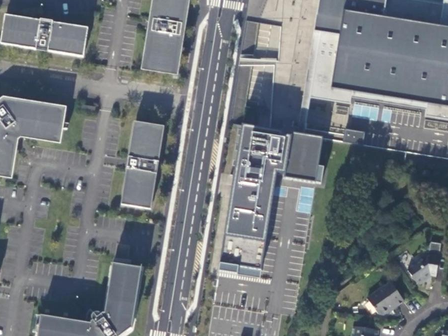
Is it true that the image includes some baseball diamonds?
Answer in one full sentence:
No, the photo shows no baseball diamond.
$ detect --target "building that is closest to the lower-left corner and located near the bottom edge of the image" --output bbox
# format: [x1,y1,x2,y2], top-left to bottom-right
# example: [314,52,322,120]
[34,260,144,336]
